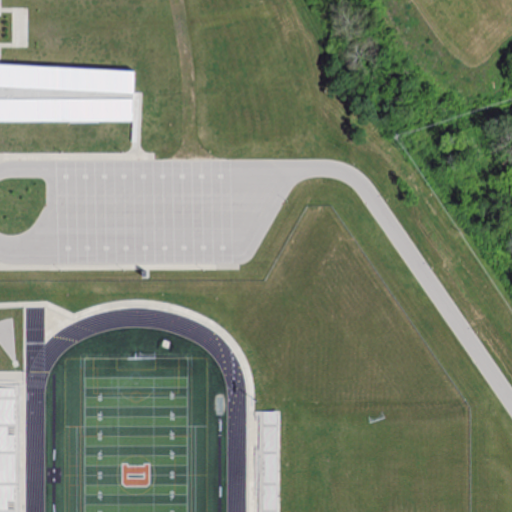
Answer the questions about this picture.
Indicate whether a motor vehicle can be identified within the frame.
No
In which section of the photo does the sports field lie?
bottom left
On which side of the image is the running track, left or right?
left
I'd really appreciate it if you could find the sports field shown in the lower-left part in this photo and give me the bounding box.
[45,329,227,512]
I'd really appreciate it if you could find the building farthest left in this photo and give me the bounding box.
[0,64,134,122]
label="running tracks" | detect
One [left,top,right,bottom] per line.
[26,308,246,512]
